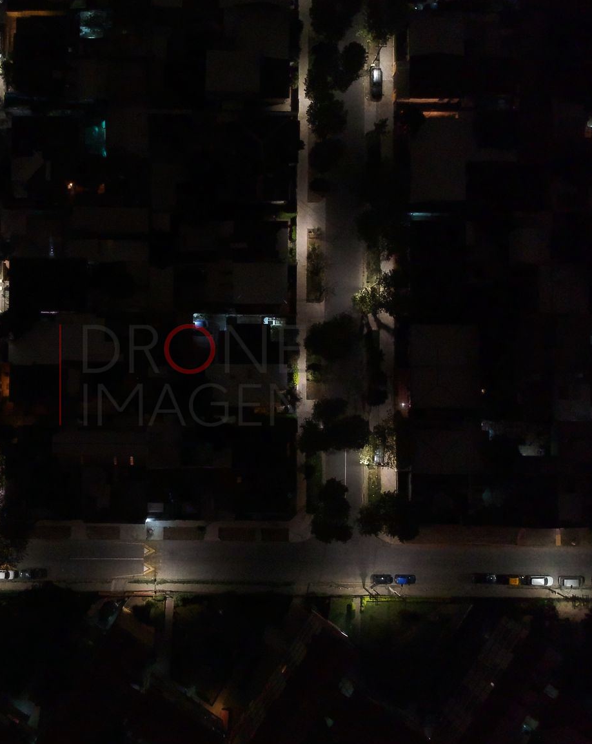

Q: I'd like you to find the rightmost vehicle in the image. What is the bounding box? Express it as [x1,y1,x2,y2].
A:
[558,577,584,589]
